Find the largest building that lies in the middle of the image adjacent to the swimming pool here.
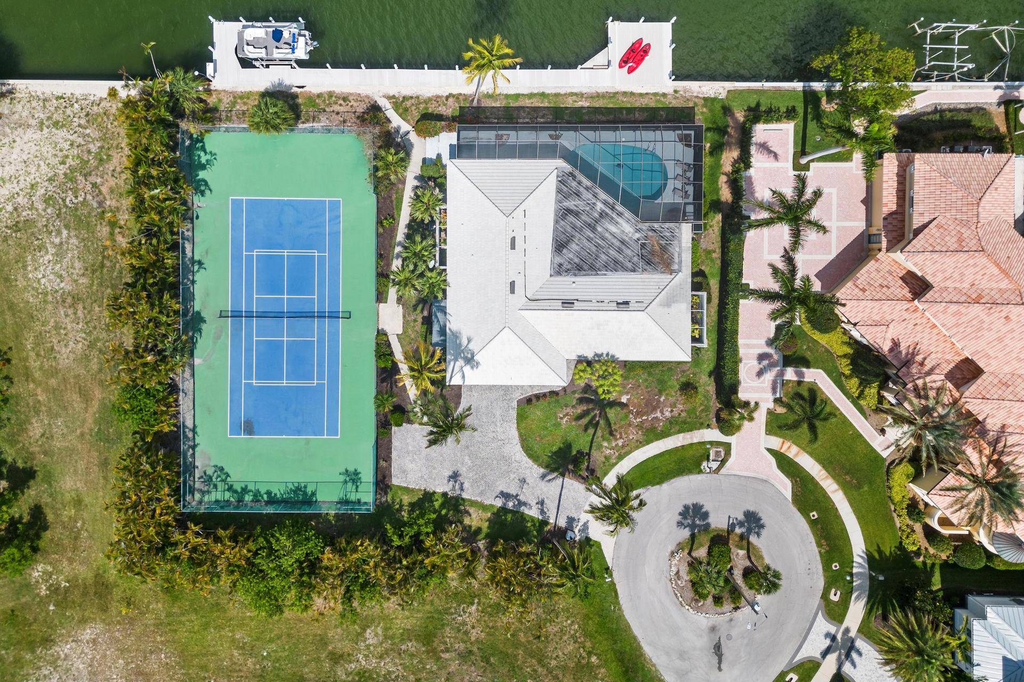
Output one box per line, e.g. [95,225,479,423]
[446,159,692,385]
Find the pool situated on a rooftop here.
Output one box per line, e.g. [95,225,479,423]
[460,135,694,222]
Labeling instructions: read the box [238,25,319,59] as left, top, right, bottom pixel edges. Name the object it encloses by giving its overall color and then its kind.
white boat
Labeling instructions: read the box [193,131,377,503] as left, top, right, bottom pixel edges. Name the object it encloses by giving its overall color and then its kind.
green tennis court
